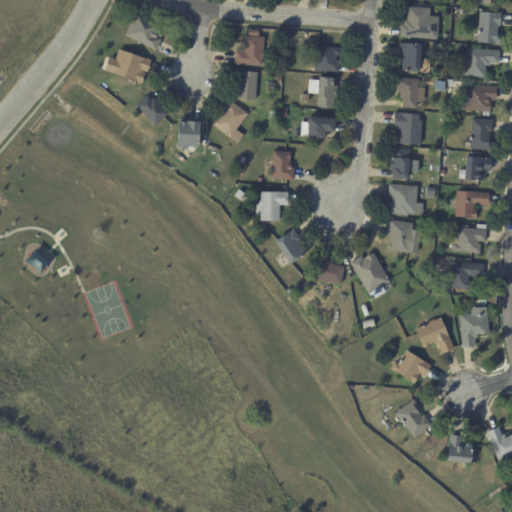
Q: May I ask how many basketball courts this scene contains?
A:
1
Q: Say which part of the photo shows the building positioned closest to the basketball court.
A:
left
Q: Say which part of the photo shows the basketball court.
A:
left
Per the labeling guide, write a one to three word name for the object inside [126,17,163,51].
house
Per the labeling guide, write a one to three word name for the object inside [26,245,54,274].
building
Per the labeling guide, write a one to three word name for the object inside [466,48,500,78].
house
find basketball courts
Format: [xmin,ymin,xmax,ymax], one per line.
[84,282,132,339]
